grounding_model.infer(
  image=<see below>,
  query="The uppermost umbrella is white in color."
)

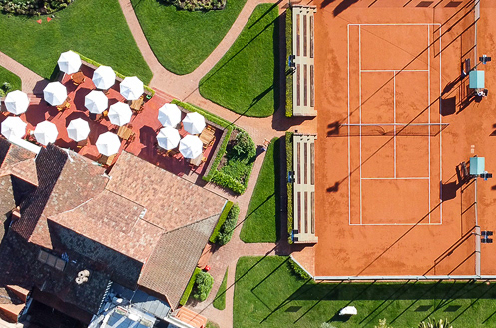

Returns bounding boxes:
[57,49,81,74]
